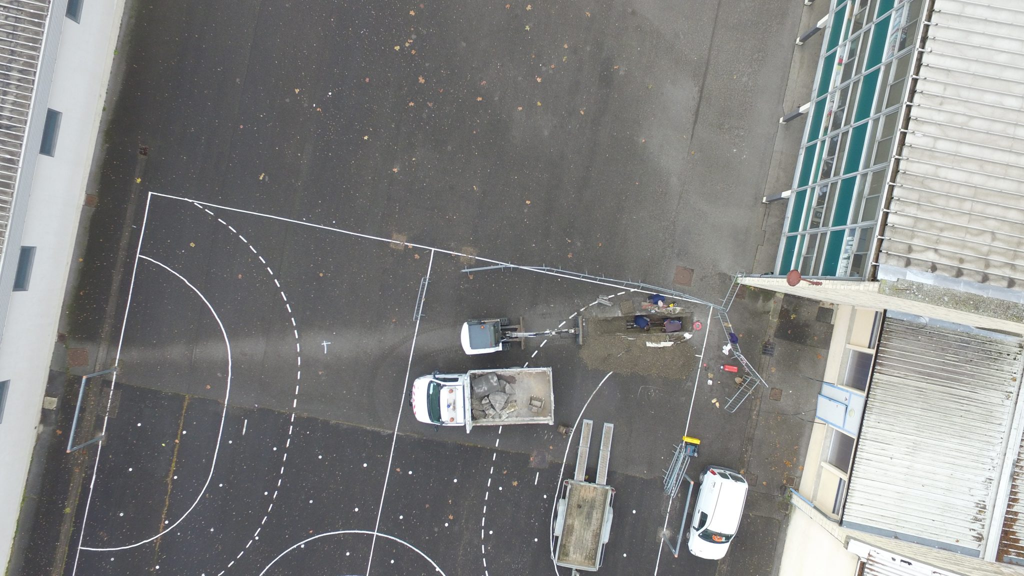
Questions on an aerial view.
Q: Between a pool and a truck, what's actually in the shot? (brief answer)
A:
truck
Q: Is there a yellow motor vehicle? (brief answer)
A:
No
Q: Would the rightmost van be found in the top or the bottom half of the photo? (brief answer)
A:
bottom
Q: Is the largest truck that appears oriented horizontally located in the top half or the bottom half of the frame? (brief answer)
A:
bottom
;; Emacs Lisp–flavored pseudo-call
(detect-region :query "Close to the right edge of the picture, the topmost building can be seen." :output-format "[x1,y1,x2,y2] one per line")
[738,0,1024,337]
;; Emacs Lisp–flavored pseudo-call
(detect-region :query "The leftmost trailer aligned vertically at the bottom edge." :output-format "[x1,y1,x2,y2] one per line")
[553,425,617,576]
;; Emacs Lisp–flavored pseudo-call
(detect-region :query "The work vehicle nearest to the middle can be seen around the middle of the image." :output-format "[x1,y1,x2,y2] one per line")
[461,315,585,357]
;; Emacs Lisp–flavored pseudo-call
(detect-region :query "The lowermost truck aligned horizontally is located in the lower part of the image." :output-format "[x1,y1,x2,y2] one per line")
[407,365,556,432]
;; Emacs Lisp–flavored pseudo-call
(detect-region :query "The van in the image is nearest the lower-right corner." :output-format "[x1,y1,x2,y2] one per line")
[685,463,752,564]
